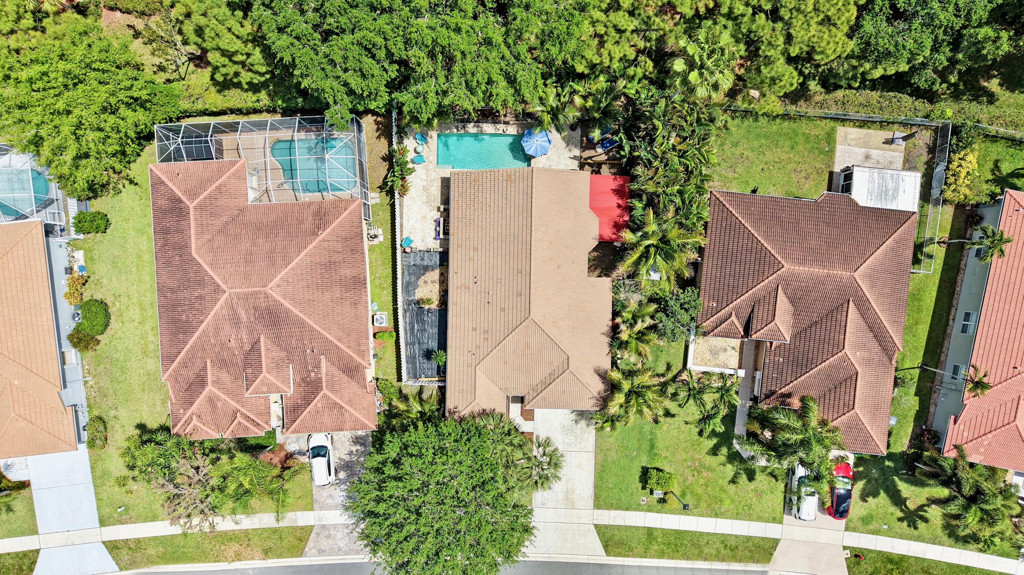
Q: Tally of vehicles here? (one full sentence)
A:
I count 3 vehicles.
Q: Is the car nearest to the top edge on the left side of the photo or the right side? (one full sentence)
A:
It is on the left.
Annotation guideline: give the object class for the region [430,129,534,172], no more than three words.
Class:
swimming pool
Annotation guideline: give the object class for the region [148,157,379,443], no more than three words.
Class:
house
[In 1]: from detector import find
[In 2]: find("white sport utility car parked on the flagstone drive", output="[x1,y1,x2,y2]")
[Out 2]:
[307,434,338,487]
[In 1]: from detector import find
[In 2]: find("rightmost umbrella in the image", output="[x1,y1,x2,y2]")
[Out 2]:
[893,131,919,146]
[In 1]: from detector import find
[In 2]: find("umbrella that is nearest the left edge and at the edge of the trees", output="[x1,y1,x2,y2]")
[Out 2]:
[521,127,551,157]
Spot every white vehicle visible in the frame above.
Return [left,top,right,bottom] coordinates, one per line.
[307,434,338,487]
[791,461,824,521]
